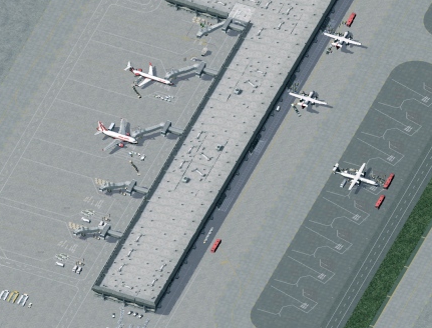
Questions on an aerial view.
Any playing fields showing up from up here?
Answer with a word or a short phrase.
No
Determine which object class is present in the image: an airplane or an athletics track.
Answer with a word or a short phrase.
airplane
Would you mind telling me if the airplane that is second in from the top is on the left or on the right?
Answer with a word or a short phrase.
left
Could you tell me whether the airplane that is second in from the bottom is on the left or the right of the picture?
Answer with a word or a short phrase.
left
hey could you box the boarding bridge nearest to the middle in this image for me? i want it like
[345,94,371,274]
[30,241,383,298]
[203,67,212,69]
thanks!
[130,121,183,142]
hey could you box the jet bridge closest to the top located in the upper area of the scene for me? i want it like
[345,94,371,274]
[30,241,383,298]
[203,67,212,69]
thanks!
[196,16,246,40]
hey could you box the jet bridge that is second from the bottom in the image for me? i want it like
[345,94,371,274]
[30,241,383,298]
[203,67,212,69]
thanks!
[98,180,149,201]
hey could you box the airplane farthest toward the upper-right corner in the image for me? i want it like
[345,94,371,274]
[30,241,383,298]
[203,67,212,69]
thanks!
[323,32,358,55]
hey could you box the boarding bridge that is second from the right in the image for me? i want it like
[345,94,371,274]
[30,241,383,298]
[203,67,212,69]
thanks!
[164,61,215,82]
